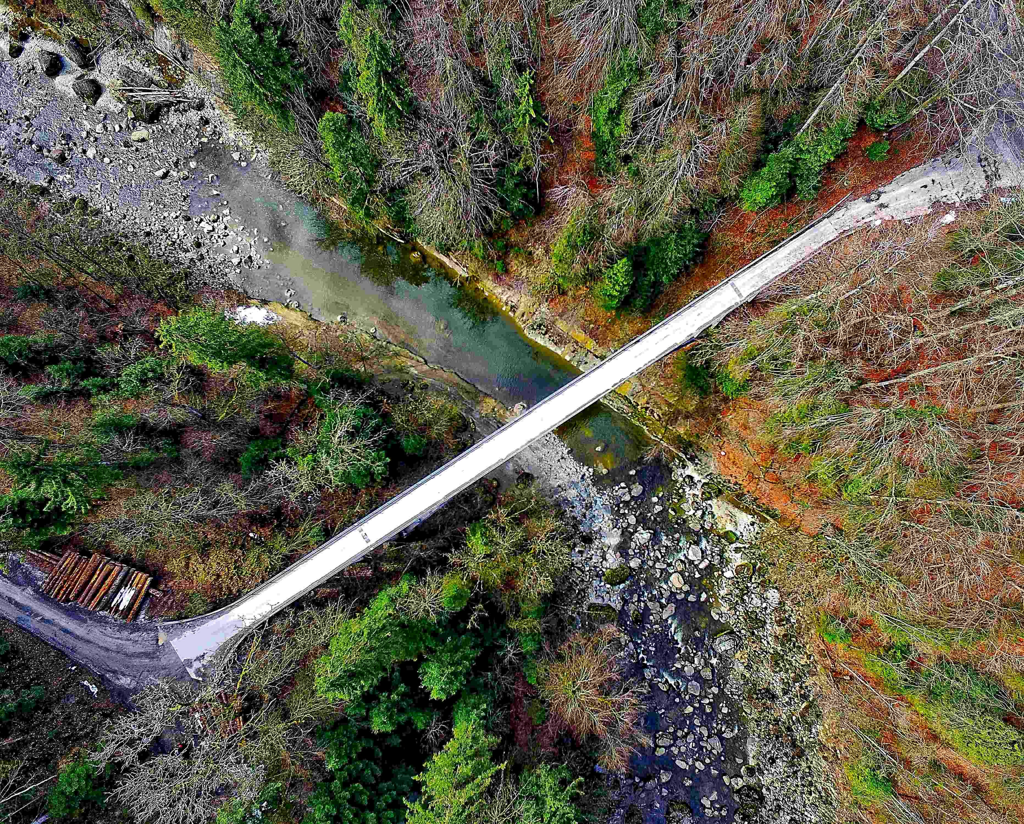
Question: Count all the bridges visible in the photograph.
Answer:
1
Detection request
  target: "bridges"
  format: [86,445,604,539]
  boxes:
[178,209,842,667]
